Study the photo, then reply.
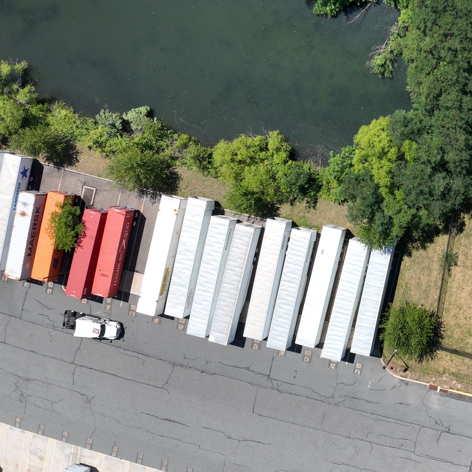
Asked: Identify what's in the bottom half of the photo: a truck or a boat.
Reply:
truck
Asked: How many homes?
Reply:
0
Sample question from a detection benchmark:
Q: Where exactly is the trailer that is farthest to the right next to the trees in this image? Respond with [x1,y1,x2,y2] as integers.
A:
[350,237,400,357]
